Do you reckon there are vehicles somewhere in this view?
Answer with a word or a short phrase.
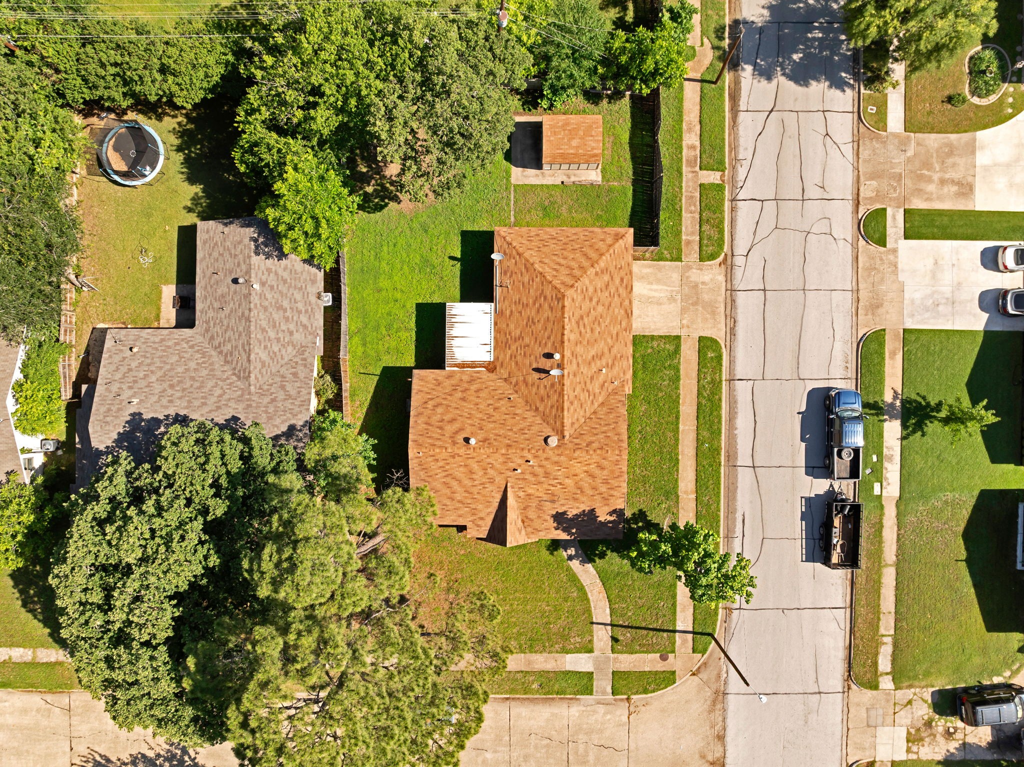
Yes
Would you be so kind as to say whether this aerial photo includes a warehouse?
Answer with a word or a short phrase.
No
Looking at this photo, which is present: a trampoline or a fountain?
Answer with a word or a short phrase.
trampoline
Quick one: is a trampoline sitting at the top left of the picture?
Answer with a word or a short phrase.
Yes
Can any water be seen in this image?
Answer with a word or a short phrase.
No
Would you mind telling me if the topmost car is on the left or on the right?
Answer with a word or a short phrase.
right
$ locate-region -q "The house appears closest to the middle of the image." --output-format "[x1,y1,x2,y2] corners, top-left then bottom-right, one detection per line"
[409,226,635,547]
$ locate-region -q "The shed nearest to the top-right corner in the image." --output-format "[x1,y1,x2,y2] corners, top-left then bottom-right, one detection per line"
[542,114,602,170]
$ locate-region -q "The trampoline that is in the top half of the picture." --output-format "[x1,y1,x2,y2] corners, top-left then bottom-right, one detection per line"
[95,117,168,187]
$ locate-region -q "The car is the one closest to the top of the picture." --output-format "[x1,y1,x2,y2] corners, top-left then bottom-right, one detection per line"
[995,245,1024,274]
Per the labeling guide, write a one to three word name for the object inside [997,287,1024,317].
car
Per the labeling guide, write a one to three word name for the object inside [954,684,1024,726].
car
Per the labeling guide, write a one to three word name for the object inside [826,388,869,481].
truck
